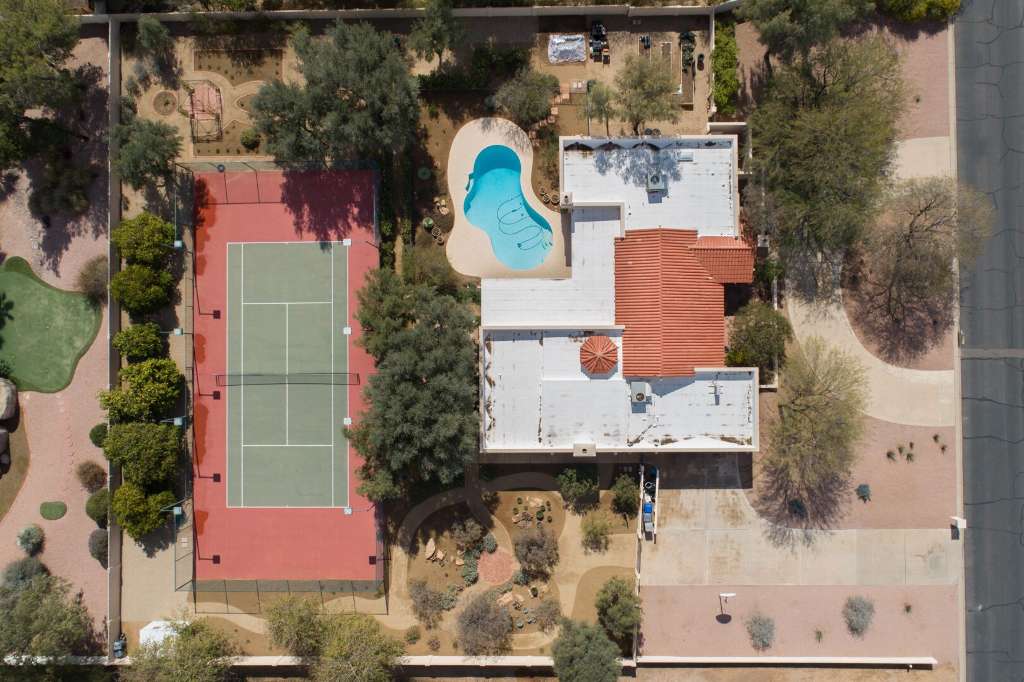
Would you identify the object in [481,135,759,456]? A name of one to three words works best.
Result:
house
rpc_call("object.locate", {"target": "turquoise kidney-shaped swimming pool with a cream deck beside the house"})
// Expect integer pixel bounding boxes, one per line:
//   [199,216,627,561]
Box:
[446,117,572,280]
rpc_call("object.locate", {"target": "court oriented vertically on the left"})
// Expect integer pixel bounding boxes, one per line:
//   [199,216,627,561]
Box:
[193,169,383,580]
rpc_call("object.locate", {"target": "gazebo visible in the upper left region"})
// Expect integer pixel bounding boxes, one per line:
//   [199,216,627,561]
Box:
[178,76,221,119]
